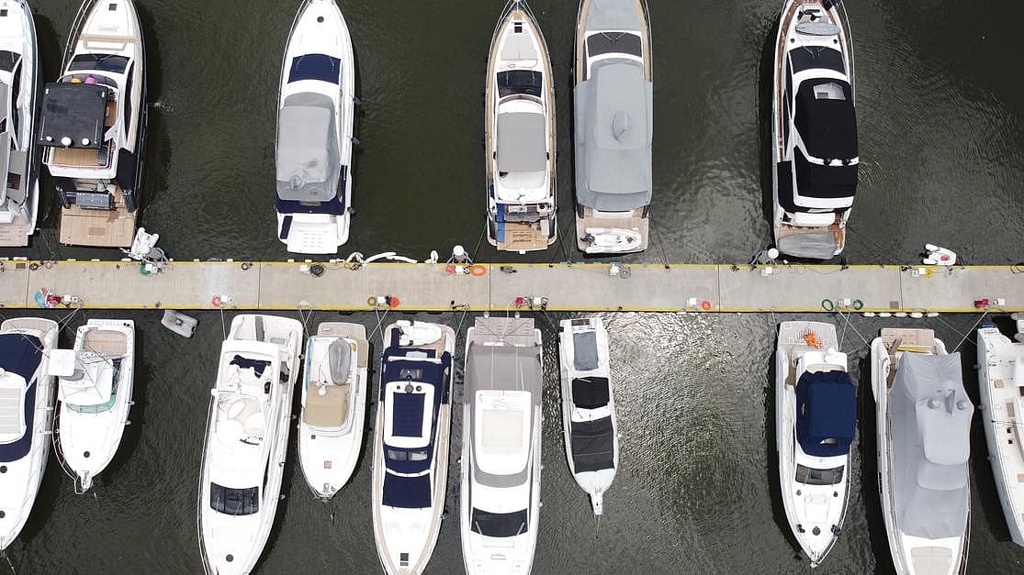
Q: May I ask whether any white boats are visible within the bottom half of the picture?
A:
Yes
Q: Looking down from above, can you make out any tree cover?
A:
No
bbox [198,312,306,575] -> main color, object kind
white boat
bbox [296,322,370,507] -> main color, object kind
white boat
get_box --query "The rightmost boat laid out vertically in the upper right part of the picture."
[767,0,861,252]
